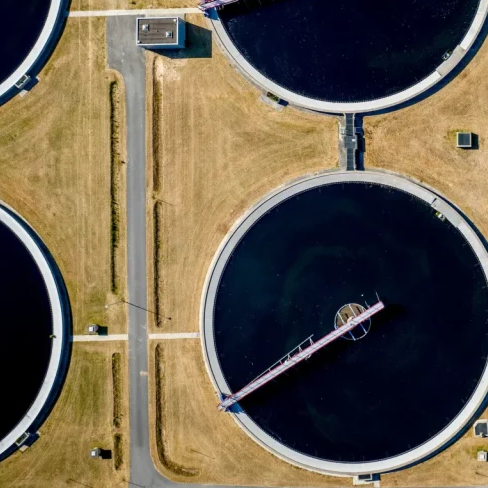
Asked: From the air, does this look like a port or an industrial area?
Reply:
industrial area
